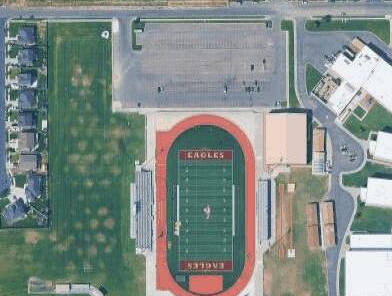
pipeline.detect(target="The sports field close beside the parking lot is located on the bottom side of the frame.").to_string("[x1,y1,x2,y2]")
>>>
[166,125,245,295]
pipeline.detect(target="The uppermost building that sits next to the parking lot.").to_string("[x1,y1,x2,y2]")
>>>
[320,38,392,116]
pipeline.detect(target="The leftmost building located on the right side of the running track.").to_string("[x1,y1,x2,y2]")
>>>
[264,113,308,164]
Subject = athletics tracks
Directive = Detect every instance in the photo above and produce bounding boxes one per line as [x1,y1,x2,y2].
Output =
[155,115,255,296]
